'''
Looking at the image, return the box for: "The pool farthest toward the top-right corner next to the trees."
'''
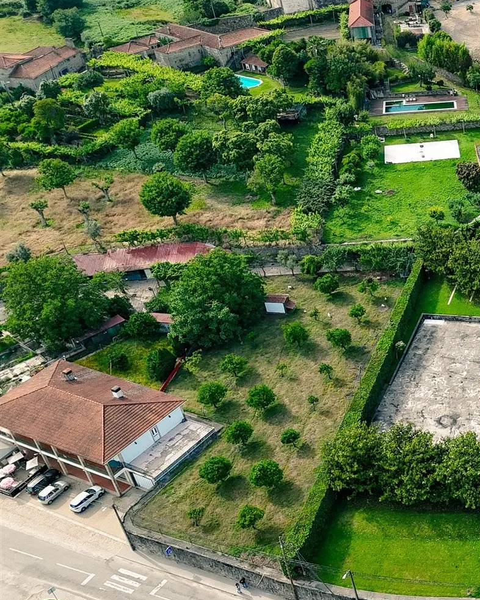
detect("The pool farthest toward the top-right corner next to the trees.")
[383,97,458,112]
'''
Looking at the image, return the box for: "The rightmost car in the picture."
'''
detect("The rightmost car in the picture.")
[62,482,107,514]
